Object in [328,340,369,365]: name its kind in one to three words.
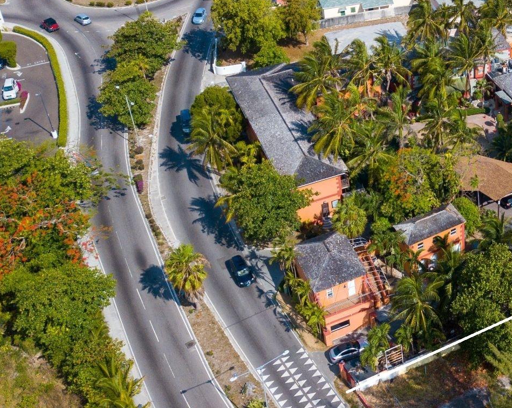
car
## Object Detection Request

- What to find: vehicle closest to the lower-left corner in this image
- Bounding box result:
[227,255,253,285]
